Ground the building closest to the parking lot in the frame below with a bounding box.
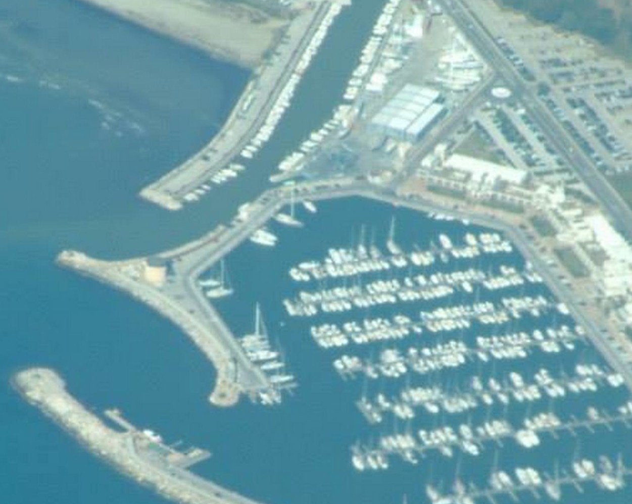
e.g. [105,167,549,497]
[445,153,525,190]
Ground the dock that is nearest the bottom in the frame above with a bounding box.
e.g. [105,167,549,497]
[441,460,632,504]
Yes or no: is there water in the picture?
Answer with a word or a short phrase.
Yes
